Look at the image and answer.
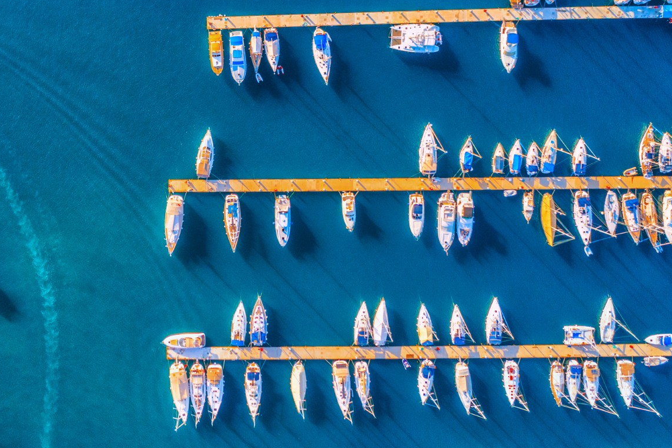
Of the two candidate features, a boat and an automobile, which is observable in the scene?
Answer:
boat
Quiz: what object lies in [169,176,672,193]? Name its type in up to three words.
pier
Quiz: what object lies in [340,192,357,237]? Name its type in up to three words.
boat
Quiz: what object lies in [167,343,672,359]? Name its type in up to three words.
pier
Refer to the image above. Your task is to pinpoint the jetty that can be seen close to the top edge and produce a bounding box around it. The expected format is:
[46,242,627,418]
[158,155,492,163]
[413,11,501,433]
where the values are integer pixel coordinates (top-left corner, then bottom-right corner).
[207,5,664,30]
